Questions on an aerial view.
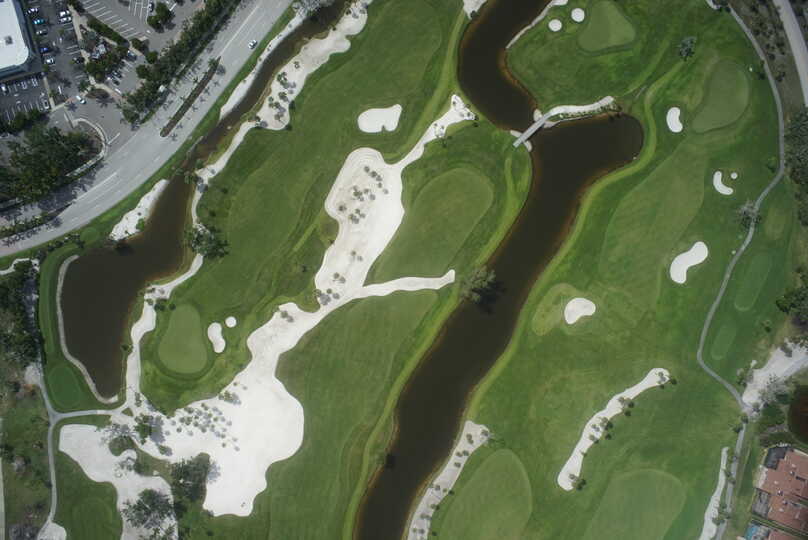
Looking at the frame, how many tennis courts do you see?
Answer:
0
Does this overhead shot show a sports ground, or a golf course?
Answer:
golf course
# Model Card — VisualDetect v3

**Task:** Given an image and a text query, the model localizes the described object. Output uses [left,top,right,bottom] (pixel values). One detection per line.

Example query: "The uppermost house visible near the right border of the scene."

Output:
[752,445,808,506]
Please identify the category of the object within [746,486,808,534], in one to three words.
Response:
house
